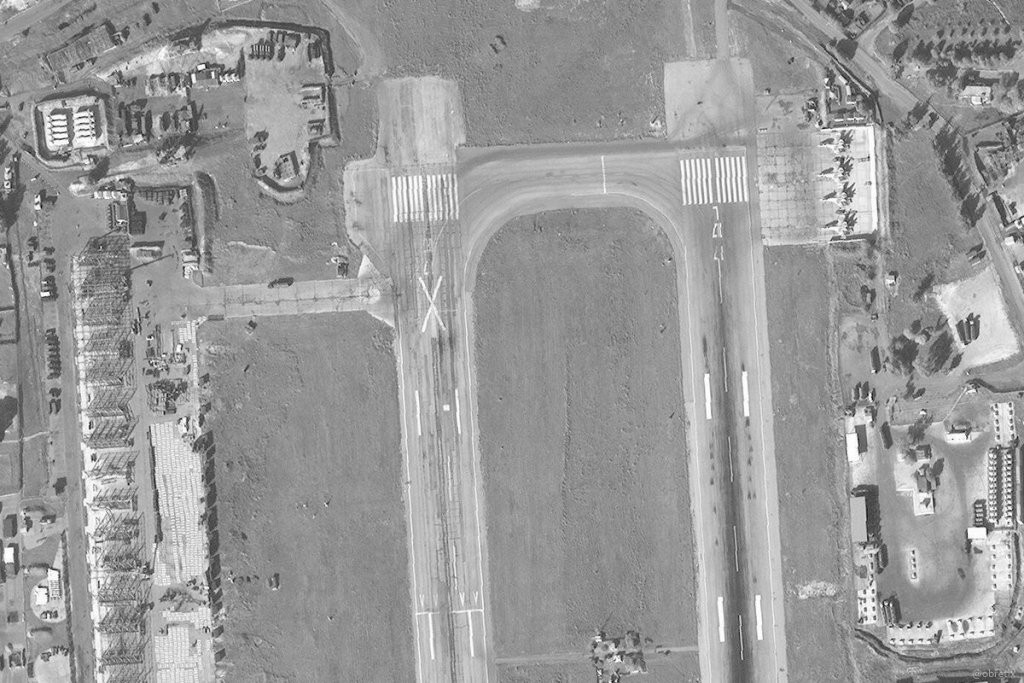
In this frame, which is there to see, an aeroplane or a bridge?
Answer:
aeroplane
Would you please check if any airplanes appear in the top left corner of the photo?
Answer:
No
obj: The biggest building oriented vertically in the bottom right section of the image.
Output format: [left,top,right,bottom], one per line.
[851,497,869,542]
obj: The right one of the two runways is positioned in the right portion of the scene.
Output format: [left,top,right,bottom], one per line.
[680,145,776,683]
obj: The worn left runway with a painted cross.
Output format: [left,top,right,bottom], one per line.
[391,166,487,683]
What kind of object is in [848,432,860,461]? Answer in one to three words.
building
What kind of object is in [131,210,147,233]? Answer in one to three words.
building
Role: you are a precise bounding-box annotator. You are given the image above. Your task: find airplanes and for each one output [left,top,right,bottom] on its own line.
[822,164,851,185]
[824,217,854,238]
[820,137,850,158]
[824,191,853,212]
